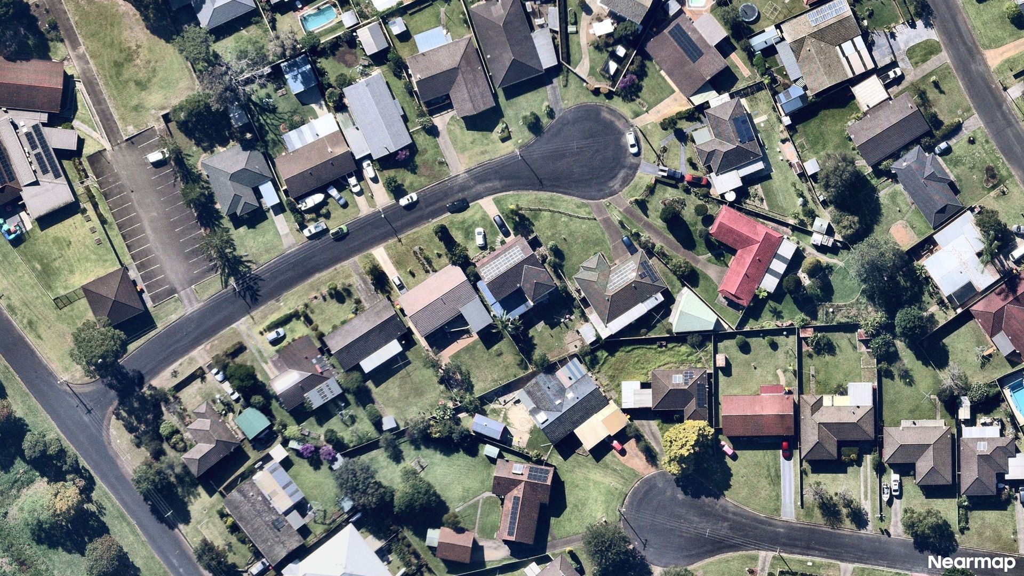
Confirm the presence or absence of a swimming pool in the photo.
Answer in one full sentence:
Yes, looking at the shot, I can spot a swimming pool.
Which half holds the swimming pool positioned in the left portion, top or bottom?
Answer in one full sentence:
The swimming pool positioned in the left portion is in the top half of the image.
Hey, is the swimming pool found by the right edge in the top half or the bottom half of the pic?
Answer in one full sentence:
It is in the bottom half that the swimming pool found by the right edge appears.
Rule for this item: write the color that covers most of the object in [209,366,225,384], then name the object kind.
white car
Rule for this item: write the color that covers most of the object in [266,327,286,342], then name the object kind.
white car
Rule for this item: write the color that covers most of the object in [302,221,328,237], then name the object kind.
white vehicle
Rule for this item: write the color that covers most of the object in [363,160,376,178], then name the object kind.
white vehicle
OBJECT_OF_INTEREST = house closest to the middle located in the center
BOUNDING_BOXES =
[475,234,557,318]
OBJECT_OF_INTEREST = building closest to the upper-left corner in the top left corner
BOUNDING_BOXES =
[0,56,64,113]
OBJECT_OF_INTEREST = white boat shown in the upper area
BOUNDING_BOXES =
[297,193,327,212]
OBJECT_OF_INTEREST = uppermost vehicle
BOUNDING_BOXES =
[879,67,903,84]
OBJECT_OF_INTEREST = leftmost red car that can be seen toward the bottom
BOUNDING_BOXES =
[611,440,625,455]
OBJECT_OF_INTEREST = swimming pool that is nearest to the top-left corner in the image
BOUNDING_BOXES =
[299,3,342,33]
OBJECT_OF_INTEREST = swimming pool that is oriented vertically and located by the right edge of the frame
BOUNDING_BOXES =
[1003,377,1024,426]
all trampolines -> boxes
[740,3,758,21]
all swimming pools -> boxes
[299,3,342,33]
[1003,377,1024,426]
[687,0,713,9]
